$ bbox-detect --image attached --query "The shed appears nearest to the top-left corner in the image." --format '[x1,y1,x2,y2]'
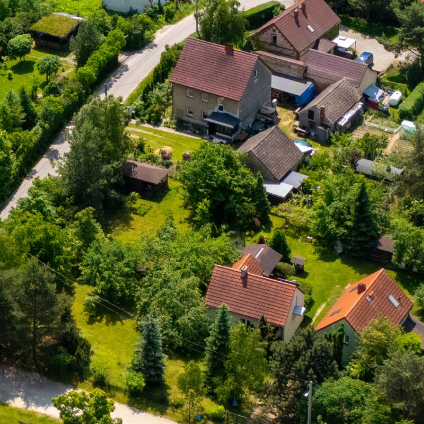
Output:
[31,11,79,55]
